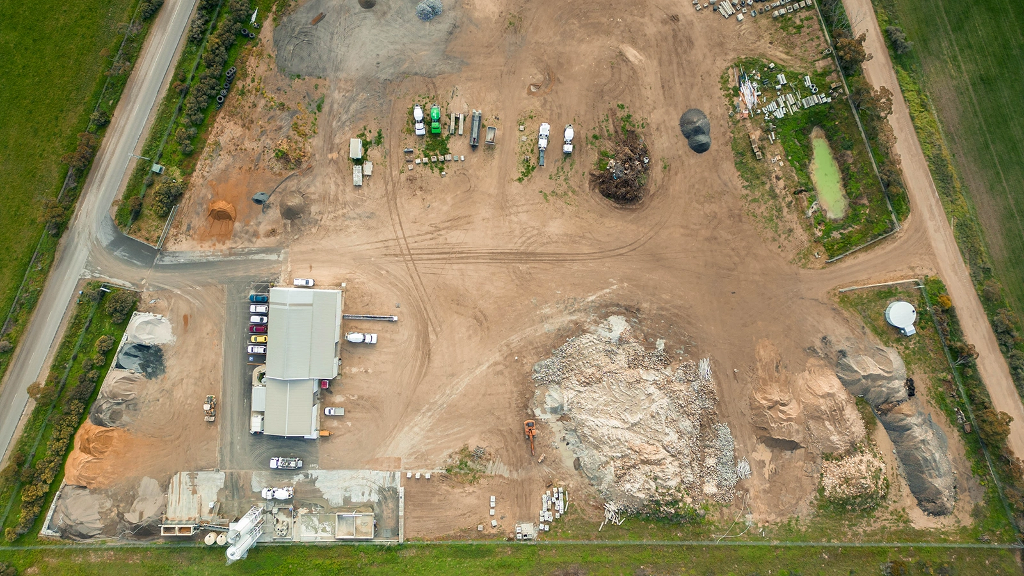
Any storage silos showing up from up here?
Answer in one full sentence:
Yes, a storage silo is visible in the scene.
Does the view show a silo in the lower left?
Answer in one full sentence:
Yes, there is a silo in the lower left.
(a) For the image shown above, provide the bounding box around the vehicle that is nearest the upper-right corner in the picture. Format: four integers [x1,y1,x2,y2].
[562,120,574,154]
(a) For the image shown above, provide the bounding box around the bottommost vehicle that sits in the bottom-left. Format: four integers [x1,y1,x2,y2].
[259,488,292,502]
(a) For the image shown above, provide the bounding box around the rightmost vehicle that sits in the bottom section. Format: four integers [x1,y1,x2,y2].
[524,419,536,456]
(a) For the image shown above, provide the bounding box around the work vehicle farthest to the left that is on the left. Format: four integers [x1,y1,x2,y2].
[202,394,216,420]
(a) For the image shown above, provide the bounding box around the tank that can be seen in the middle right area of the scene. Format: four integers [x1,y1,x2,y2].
[883,301,916,329]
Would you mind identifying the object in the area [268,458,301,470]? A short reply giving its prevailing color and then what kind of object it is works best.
white vehicle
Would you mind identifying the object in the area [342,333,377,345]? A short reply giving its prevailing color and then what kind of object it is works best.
white vehicle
